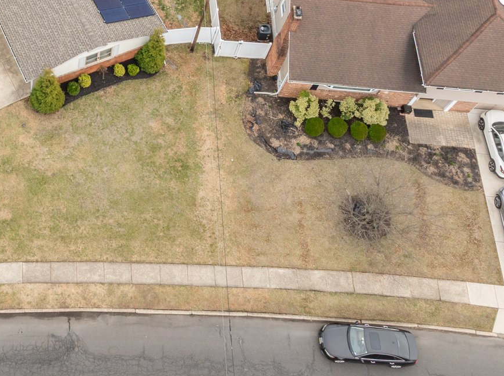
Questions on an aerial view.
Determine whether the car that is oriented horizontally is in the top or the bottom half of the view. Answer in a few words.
bottom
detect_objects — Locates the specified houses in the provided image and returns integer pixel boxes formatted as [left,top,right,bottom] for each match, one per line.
[248,0,504,114]
[0,0,169,94]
